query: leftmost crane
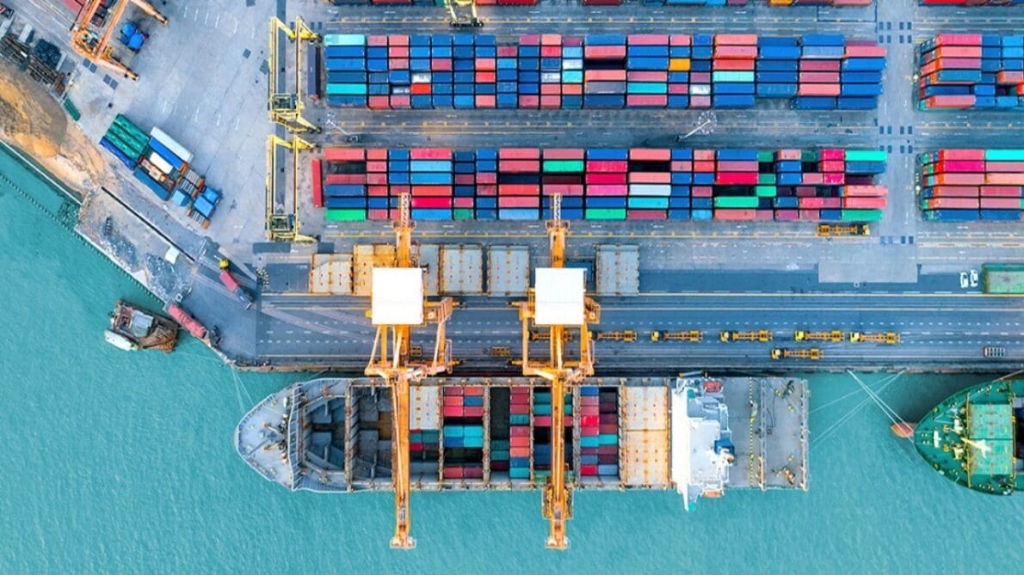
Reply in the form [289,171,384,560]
[67,0,174,78]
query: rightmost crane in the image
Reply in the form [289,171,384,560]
[503,194,603,548]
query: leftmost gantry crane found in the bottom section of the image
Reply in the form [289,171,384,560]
[359,194,466,548]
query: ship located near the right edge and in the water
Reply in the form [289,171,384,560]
[891,375,1024,496]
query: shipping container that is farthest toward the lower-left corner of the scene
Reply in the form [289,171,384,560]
[167,301,210,338]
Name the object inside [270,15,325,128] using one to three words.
container crane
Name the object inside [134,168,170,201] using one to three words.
shipping container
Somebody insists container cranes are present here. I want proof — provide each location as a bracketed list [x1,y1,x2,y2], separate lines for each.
[268,134,323,239]
[270,15,325,128]
[503,194,603,548]
[67,0,174,78]
[359,194,466,548]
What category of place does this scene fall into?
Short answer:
port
